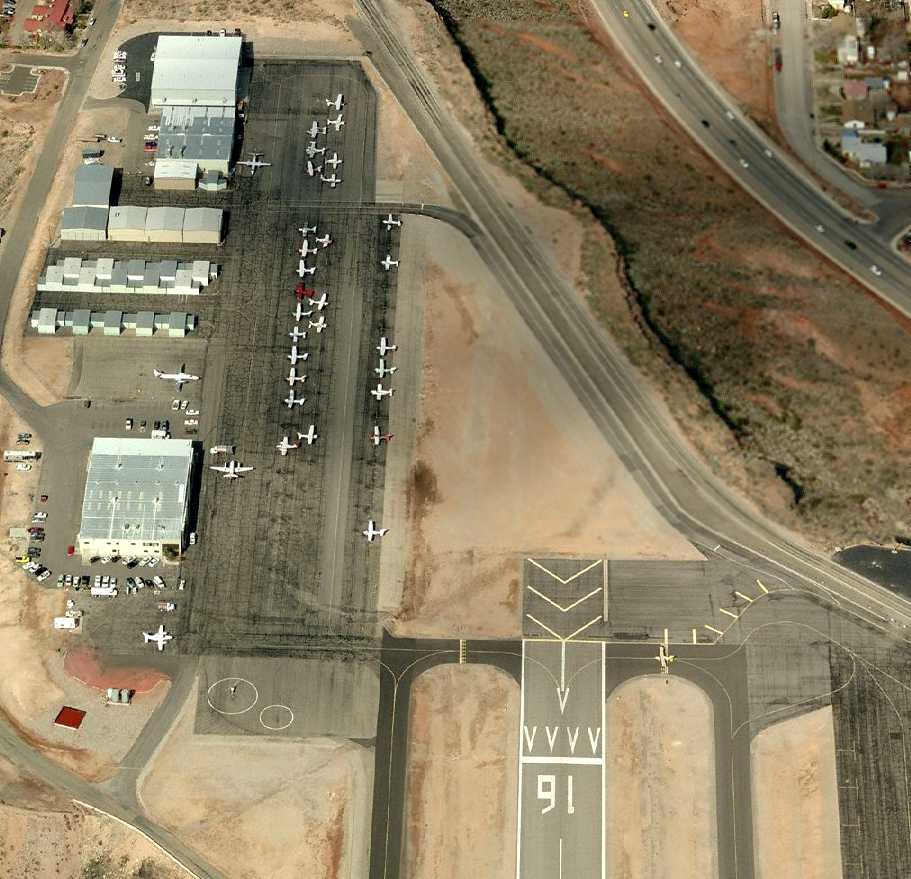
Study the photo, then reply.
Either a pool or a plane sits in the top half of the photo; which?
plane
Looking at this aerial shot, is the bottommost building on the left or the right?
left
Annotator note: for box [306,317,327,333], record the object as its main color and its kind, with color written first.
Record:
white airplane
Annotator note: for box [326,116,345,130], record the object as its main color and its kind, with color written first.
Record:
white airplane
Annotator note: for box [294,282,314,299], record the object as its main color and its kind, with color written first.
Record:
red airplane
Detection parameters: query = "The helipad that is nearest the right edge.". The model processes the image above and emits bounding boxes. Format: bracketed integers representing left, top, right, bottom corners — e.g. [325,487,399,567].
[260,705,294,730]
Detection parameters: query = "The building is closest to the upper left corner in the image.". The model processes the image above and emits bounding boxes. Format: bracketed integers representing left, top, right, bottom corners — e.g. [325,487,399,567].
[20,0,79,40]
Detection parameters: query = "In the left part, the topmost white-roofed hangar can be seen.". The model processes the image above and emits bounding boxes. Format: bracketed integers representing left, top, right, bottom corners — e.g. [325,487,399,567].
[150,35,243,126]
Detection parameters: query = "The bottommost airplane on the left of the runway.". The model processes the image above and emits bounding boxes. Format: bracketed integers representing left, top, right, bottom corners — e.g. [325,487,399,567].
[138,623,170,651]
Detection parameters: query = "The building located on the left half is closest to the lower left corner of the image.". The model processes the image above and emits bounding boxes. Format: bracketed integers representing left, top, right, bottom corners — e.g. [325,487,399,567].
[79,437,193,566]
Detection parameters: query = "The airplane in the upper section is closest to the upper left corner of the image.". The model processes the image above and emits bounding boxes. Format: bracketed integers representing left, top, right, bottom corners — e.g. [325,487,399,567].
[238,148,270,170]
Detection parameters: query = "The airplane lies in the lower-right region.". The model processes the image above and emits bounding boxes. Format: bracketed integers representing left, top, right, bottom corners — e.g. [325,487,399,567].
[654,644,676,671]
